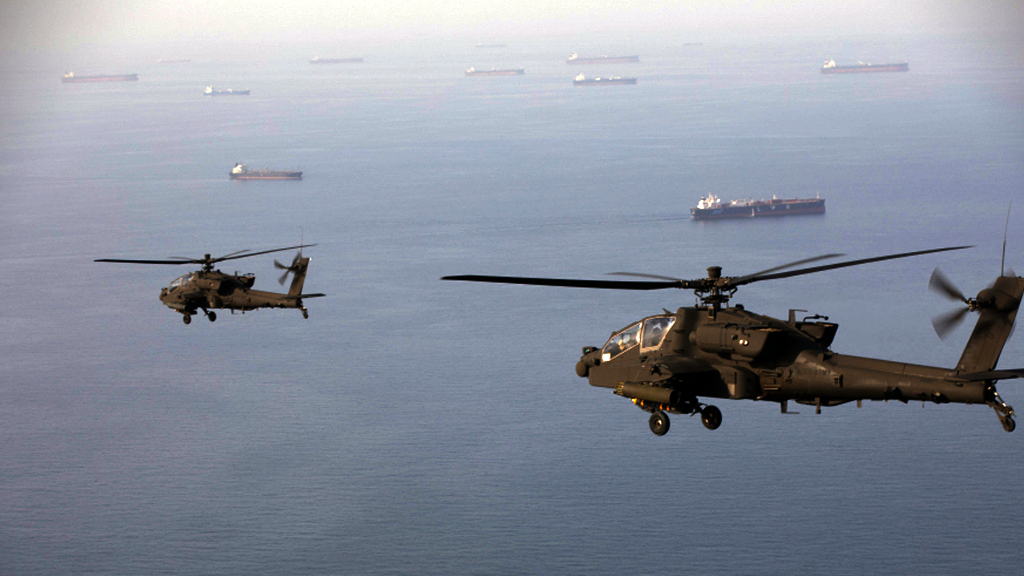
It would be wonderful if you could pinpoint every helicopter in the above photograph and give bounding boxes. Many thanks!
[436,202,1024,438]
[94,245,327,324]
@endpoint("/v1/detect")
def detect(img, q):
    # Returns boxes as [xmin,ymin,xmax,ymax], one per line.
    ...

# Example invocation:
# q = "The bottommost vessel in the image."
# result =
[689,191,825,221]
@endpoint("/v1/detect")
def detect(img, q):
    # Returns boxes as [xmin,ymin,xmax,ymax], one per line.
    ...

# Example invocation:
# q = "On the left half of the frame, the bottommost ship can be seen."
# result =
[230,163,301,179]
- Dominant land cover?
water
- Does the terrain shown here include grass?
No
